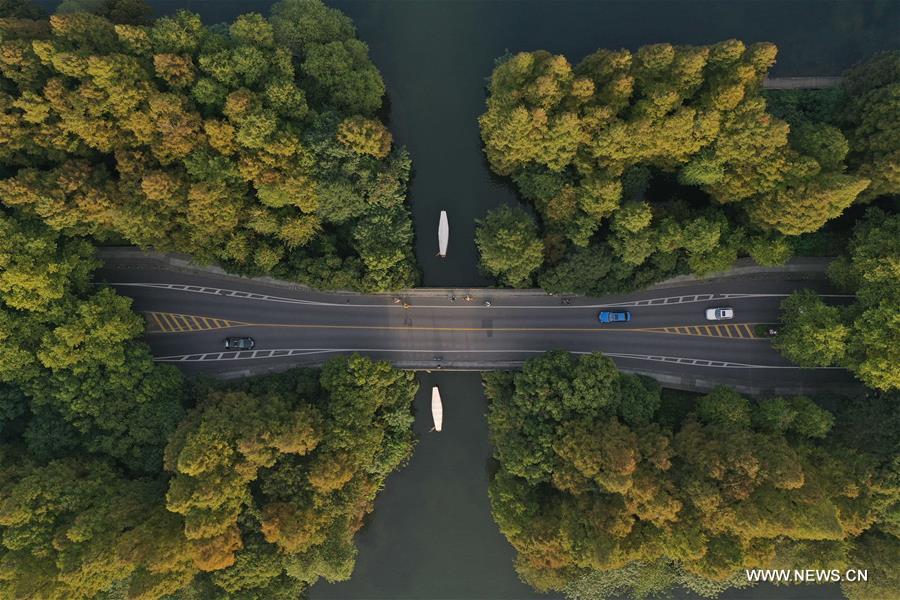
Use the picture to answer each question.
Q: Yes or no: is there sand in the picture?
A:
No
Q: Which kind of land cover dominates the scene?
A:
trees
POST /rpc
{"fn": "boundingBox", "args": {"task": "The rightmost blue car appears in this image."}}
[599,309,633,324]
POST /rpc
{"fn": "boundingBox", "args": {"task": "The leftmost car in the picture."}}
[221,336,253,351]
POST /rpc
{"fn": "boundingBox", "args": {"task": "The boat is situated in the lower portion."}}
[428,385,442,436]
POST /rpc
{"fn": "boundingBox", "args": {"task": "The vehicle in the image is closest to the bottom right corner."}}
[706,307,737,322]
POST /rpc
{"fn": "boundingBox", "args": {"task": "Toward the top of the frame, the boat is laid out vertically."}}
[433,207,448,258]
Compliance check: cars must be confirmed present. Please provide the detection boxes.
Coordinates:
[599,309,633,324]
[221,336,253,351]
[706,307,737,322]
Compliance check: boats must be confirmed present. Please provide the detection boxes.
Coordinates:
[433,207,448,258]
[428,385,442,436]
